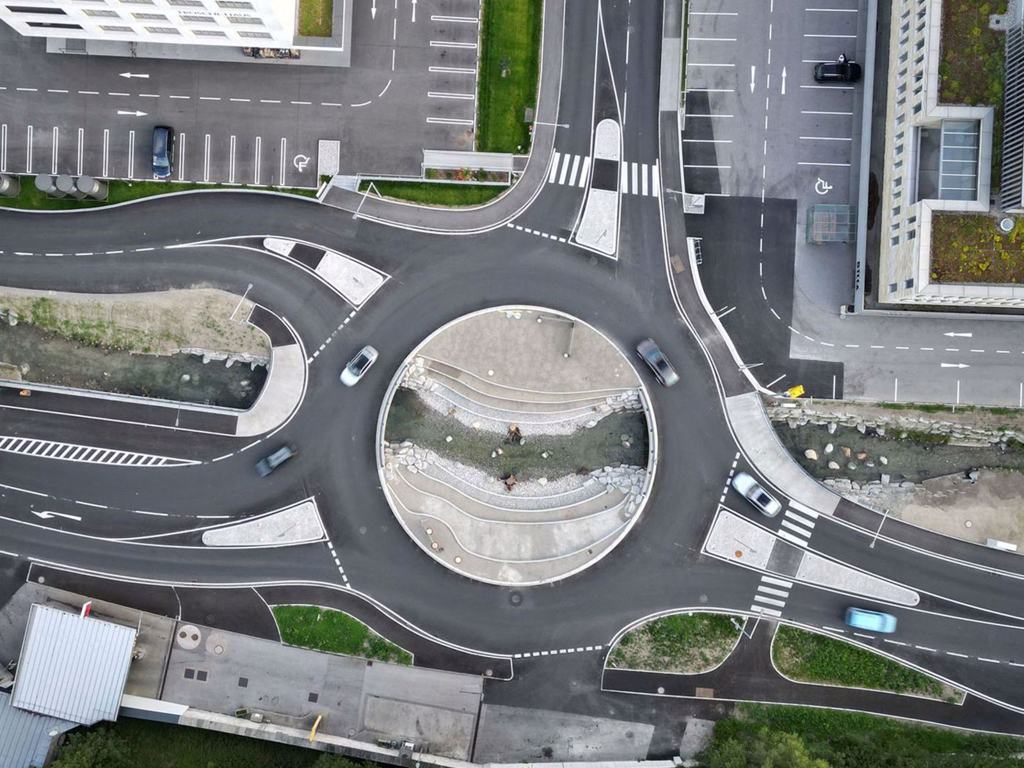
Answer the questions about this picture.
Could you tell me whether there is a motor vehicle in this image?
Yes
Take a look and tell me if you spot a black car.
Yes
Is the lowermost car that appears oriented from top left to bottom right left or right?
right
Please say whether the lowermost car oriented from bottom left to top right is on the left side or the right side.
left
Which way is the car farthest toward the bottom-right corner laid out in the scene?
from left to right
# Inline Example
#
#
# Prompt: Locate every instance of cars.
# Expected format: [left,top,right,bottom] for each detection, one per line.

[340,344,379,389]
[846,608,896,634]
[734,473,781,517]
[638,340,678,386]
[147,127,173,177]
[254,444,298,479]
[812,52,861,86]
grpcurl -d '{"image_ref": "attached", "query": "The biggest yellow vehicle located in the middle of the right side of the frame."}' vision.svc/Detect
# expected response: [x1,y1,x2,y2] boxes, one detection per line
[781,381,809,402]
